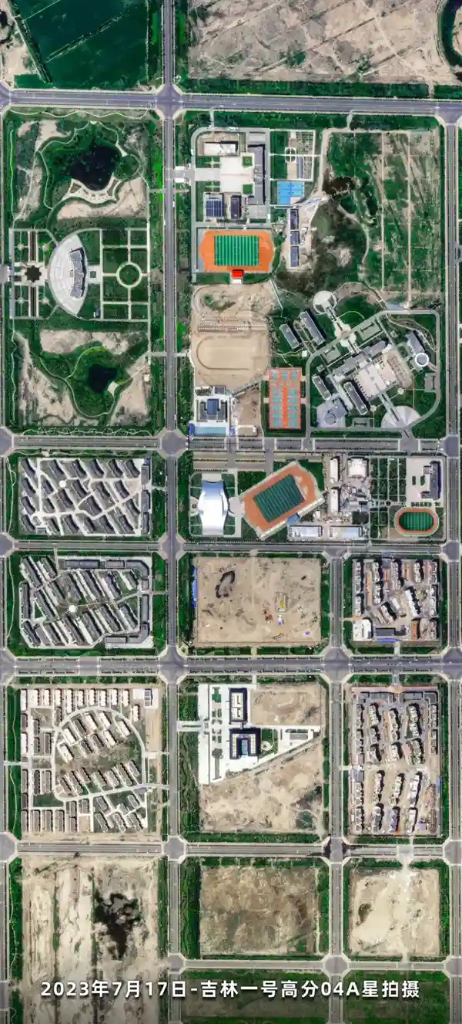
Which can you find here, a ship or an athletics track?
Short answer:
athletics track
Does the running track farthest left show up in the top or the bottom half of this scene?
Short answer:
top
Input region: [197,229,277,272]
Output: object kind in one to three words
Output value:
running track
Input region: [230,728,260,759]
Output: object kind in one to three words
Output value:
building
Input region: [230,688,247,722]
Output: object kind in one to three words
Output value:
building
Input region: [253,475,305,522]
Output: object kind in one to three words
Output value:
sports field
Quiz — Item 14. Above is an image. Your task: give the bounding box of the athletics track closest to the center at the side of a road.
[241,462,323,539]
